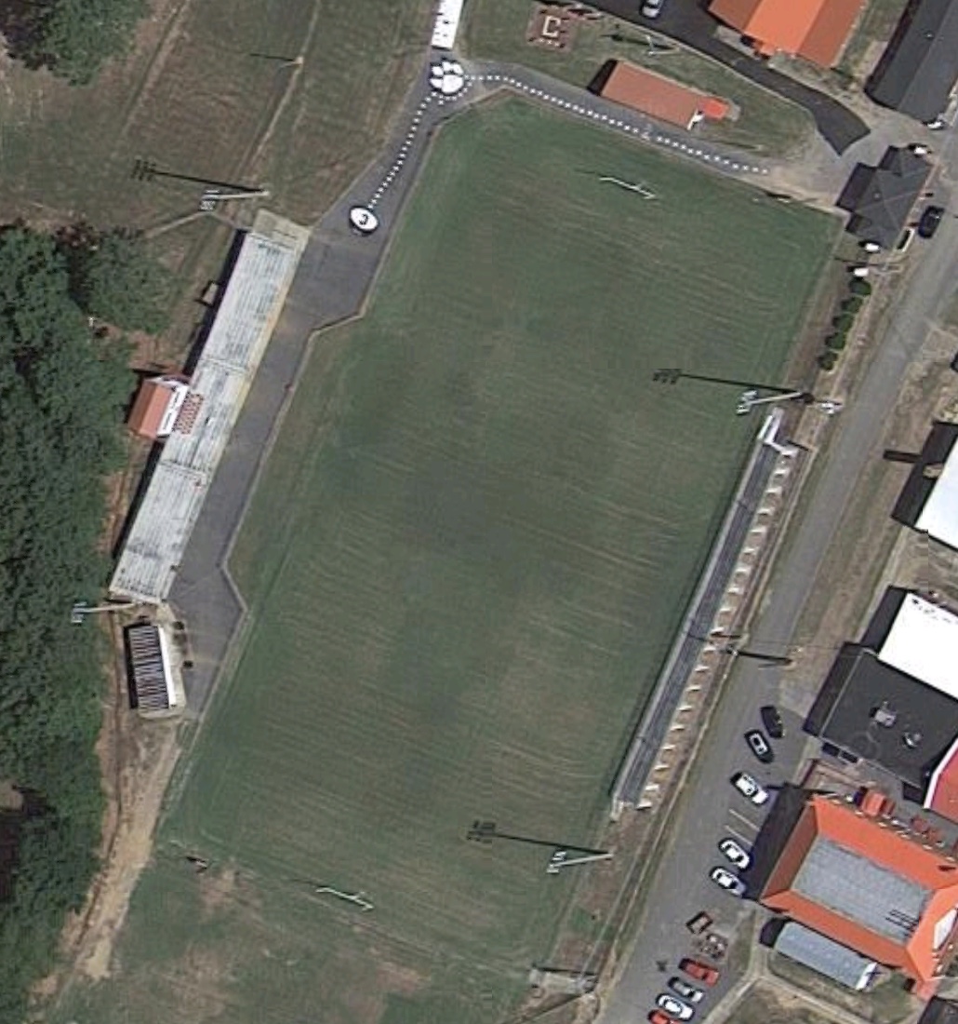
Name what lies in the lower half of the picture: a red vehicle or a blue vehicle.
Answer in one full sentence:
You can see a red vehicle in the lower half of the picture.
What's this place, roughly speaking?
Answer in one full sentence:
The area seen from above is a sports ground.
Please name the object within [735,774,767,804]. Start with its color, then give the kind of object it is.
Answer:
white car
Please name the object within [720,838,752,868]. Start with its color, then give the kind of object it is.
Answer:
white car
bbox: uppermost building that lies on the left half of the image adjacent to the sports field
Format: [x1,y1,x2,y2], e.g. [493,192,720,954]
[129,625,177,709]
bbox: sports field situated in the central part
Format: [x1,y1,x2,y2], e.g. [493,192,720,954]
[158,95,842,970]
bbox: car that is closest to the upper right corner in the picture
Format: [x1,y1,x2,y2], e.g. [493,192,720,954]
[921,203,945,239]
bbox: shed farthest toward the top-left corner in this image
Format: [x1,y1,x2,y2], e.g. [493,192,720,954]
[202,283,223,304]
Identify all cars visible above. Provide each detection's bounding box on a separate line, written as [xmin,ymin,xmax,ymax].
[720,838,752,868]
[671,978,703,1002]
[648,1010,679,1024]
[658,994,691,1021]
[746,728,772,763]
[713,866,745,895]
[735,774,767,804]
[683,958,718,985]
[763,703,784,739]
[921,203,945,239]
